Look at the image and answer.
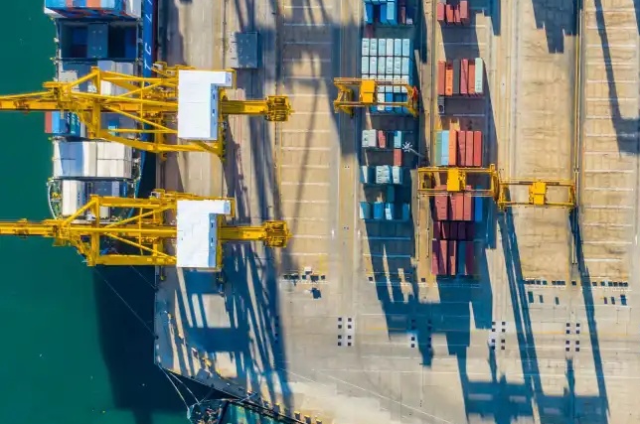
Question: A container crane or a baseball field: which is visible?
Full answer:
Of the two, only a container crane appears.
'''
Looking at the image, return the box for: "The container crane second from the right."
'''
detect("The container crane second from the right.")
[417,164,502,200]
